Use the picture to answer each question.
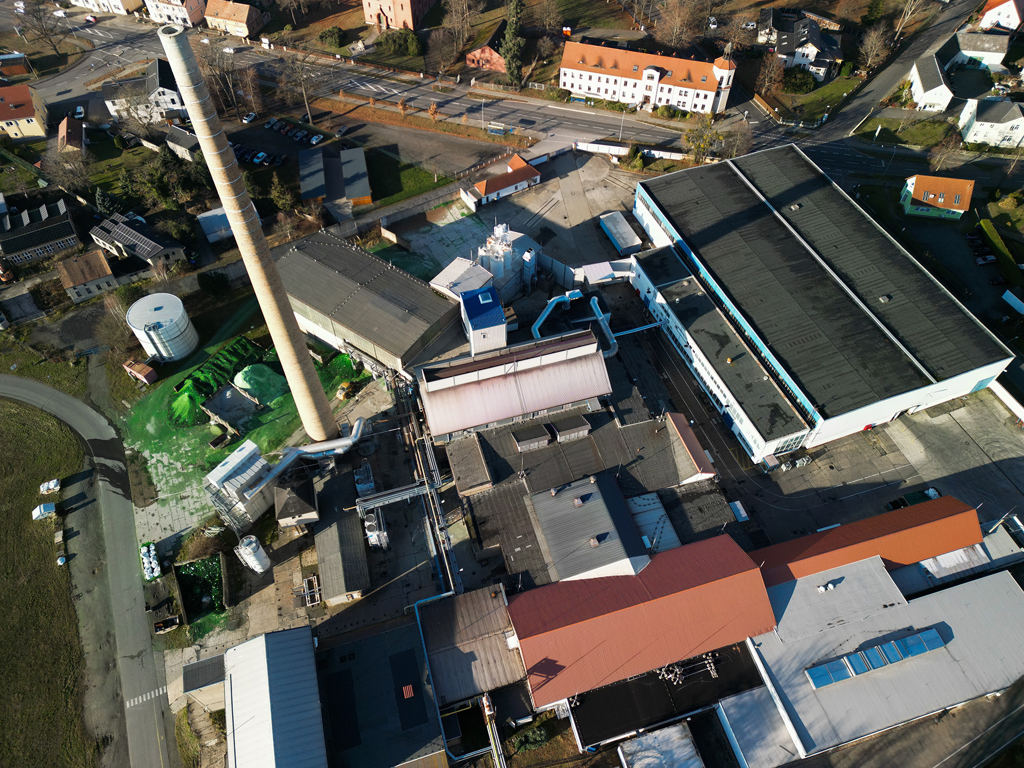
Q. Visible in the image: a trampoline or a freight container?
freight container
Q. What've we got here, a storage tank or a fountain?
storage tank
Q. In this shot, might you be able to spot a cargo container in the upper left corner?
No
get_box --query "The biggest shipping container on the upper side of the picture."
[599,211,642,256]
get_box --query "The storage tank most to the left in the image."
[124,290,201,366]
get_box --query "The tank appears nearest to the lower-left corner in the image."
[231,533,279,582]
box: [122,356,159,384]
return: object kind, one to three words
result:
shed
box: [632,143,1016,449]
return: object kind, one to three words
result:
building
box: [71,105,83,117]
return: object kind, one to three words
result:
vehicle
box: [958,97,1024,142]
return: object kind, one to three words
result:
house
